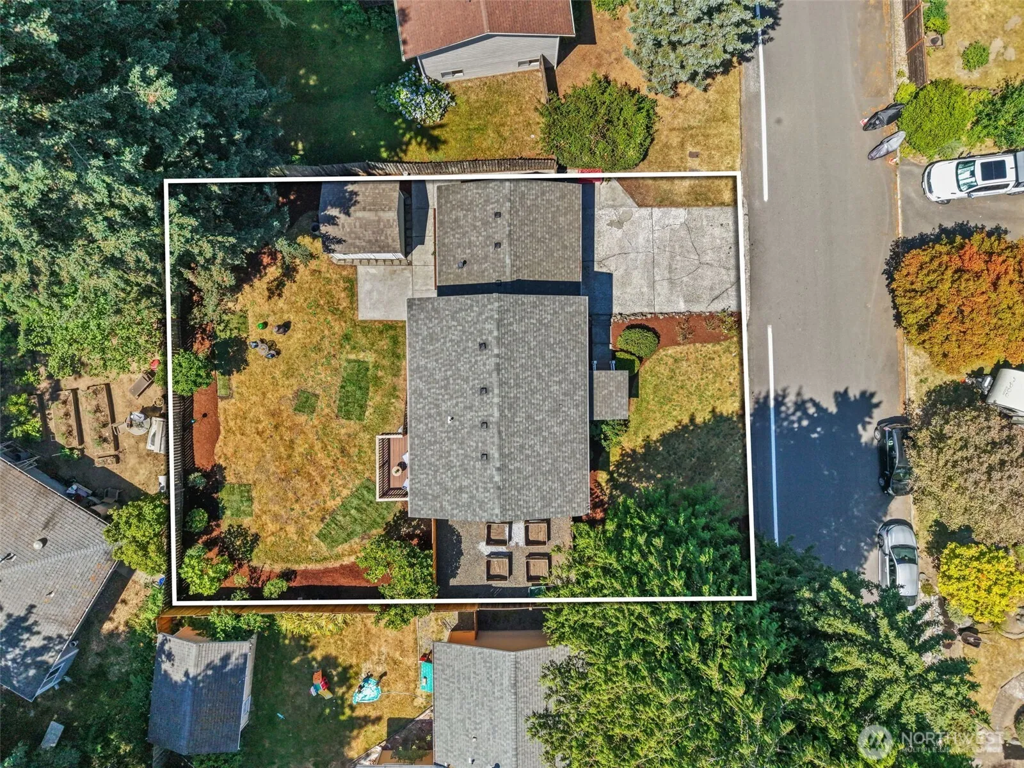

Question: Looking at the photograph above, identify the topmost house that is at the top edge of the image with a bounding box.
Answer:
[393,0,576,84]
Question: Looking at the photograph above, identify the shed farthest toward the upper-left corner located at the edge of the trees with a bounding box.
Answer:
[316,176,405,259]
